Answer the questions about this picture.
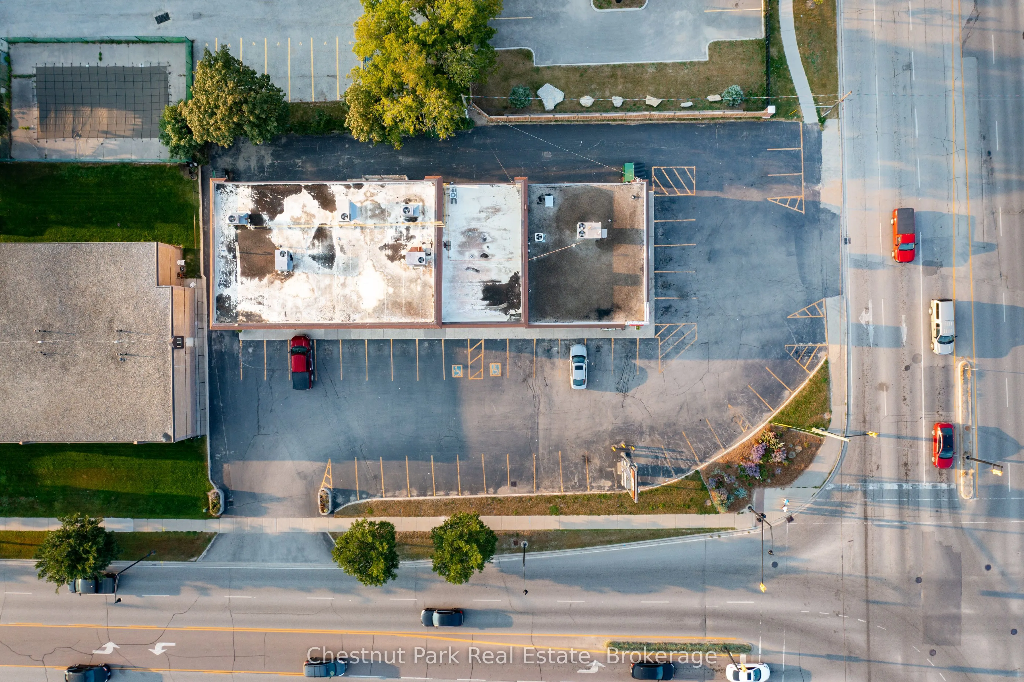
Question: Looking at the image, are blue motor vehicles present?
Yes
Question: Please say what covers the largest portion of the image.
paved ground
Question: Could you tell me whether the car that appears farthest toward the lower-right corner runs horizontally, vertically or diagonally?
vertically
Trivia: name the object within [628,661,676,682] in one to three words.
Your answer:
car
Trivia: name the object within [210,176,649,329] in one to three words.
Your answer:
building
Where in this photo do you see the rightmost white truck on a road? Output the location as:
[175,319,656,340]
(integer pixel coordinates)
[929,299,955,355]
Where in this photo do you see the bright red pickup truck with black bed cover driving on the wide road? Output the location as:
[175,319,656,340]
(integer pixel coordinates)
[892,208,918,263]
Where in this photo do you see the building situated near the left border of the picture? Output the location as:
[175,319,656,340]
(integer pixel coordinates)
[0,242,197,446]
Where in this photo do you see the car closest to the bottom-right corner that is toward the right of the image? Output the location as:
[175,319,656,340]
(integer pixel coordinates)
[931,422,956,470]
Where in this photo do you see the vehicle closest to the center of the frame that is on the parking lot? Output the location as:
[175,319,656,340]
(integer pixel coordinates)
[569,342,590,390]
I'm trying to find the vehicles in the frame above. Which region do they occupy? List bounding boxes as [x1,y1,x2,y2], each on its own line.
[569,342,590,390]
[892,208,918,263]
[66,574,120,597]
[931,422,956,470]
[723,663,770,682]
[64,663,114,682]
[628,661,676,682]
[929,299,955,355]
[302,657,350,680]
[419,607,465,630]
[289,334,313,390]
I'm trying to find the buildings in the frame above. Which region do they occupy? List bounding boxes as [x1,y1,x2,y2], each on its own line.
[0,242,197,446]
[210,176,649,329]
